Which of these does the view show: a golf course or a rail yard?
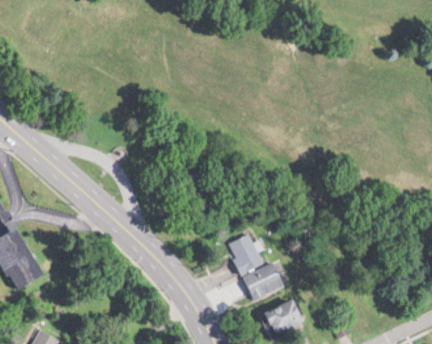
golf course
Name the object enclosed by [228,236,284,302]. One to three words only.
house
